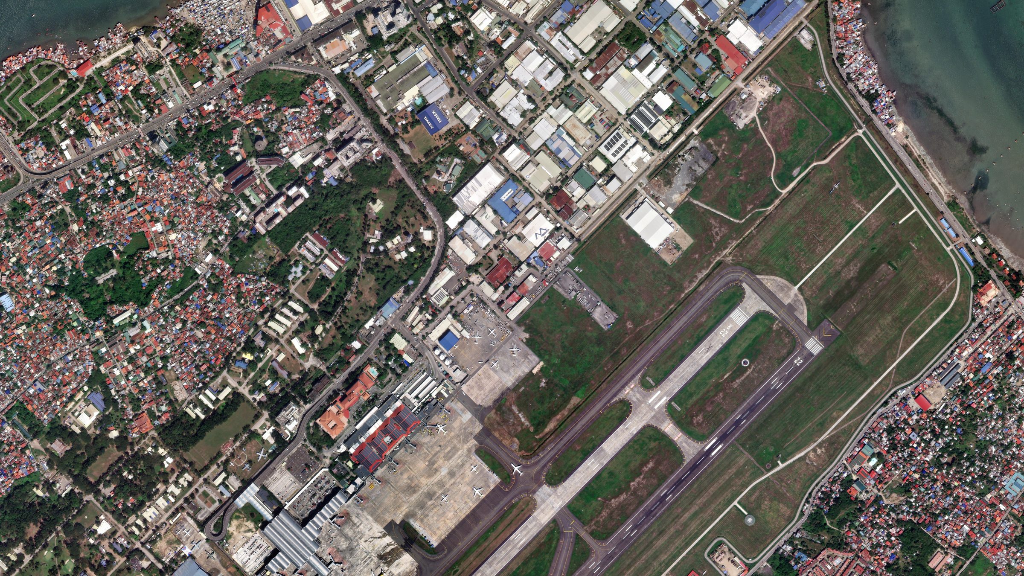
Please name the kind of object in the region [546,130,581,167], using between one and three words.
building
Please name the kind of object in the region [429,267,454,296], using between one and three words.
shed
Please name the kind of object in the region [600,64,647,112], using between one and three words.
building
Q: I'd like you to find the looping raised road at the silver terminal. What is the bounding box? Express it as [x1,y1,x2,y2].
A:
[205,445,295,541]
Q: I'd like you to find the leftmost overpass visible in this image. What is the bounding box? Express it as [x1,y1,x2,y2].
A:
[0,130,116,176]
